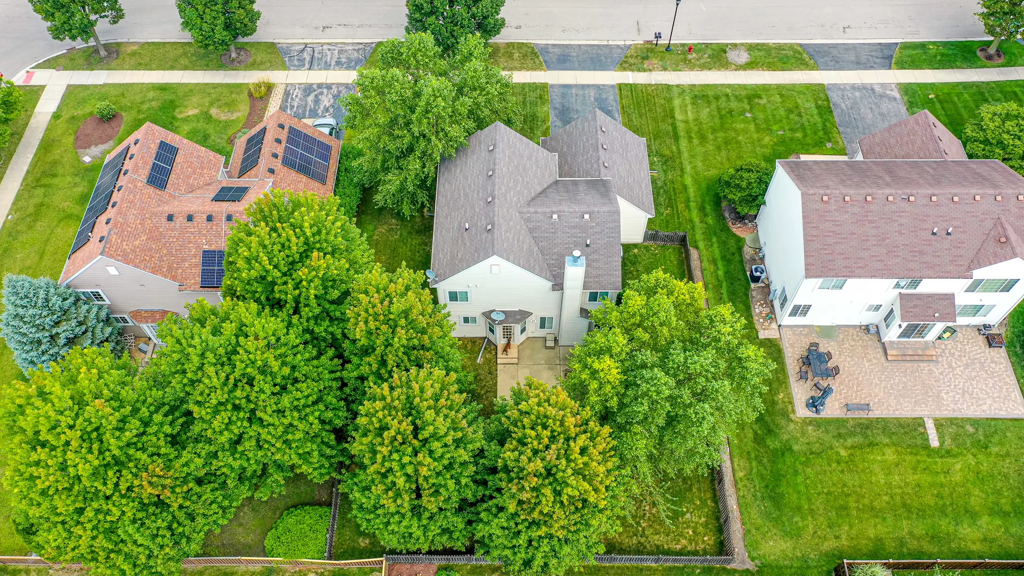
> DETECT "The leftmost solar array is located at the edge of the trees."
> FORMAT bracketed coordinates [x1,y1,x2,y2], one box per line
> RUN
[63,137,131,268]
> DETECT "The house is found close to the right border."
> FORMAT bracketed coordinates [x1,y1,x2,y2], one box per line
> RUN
[757,110,1024,360]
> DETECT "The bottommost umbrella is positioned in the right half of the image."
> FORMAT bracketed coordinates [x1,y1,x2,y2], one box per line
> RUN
[807,379,838,413]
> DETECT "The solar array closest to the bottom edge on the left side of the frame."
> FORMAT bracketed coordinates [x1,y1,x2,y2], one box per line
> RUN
[202,251,233,286]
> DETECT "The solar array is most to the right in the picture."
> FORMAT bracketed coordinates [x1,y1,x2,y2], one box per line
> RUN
[286,124,335,181]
